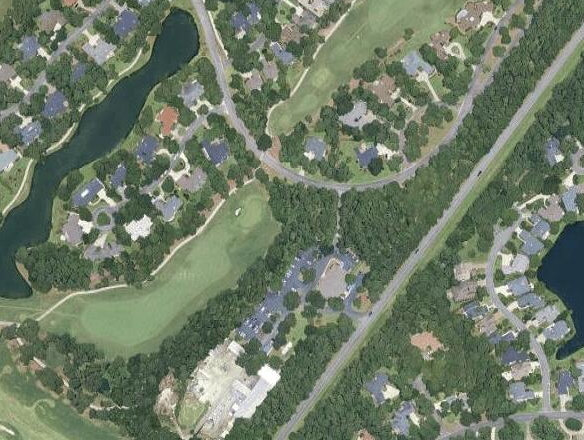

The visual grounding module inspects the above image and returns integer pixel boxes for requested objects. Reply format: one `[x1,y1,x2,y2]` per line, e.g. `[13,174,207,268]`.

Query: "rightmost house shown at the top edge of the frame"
[458,0,496,31]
